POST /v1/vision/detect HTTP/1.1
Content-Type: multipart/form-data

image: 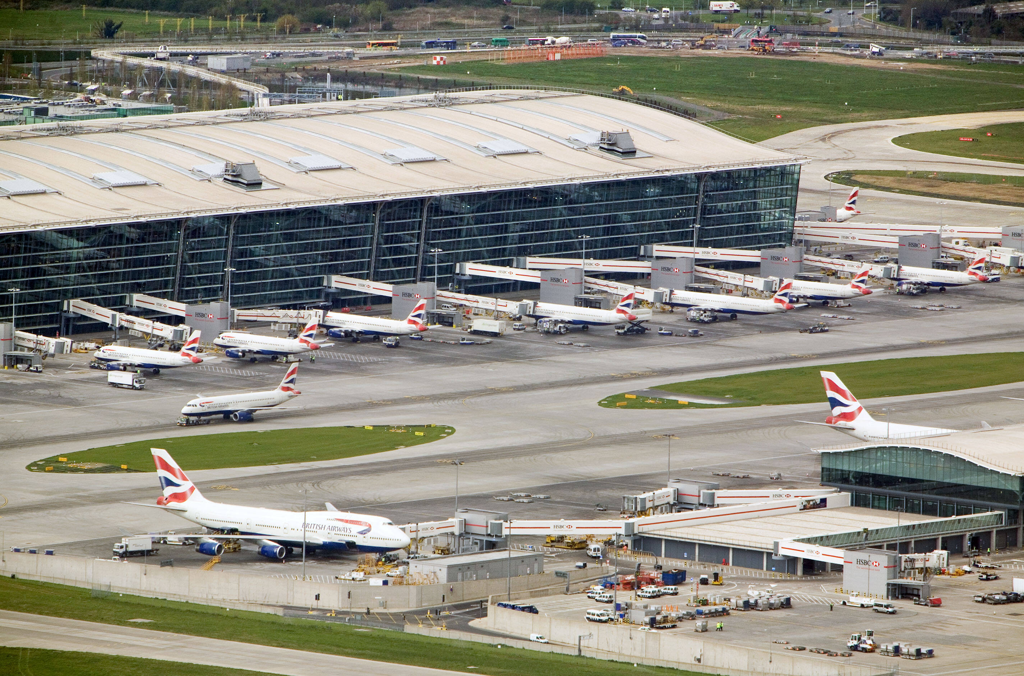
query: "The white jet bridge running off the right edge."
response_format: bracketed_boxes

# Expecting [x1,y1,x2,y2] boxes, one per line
[937,241,1024,281]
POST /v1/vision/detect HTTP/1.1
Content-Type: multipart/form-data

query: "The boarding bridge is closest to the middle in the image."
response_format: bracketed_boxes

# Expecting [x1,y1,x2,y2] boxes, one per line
[429,291,541,325]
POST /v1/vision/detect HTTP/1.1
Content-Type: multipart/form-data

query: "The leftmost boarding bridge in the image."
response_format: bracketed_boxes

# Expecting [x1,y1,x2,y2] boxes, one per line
[10,332,73,364]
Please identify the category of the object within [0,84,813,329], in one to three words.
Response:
building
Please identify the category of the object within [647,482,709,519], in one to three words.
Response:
building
